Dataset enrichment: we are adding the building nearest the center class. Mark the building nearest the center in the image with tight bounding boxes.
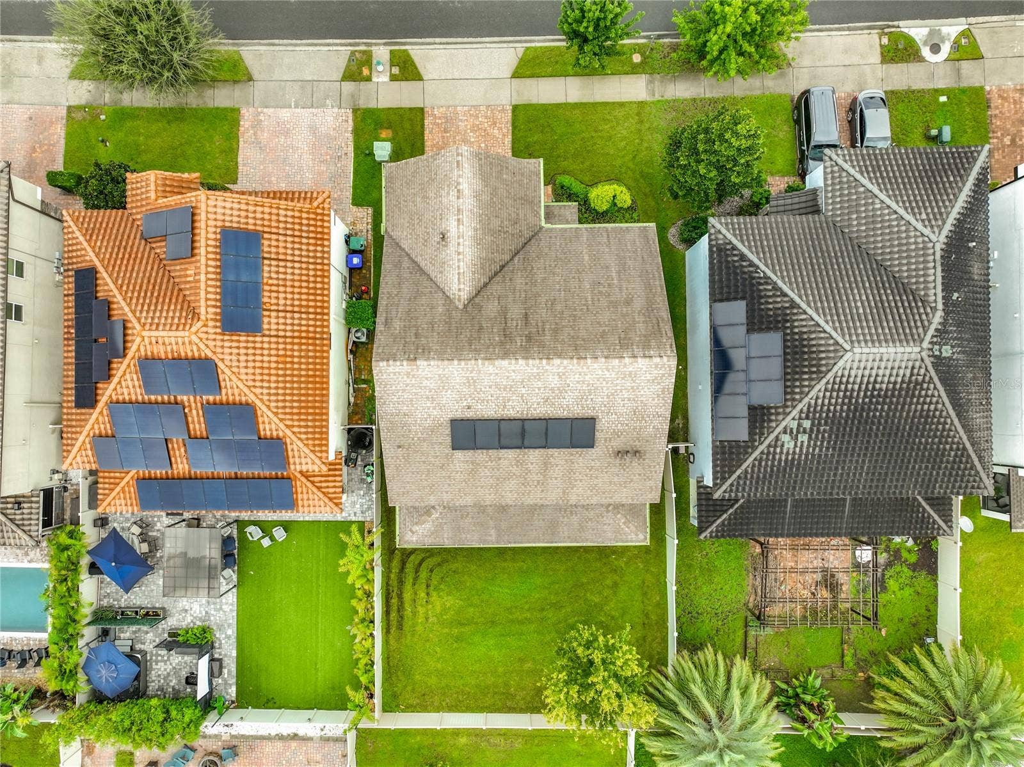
[371,145,678,547]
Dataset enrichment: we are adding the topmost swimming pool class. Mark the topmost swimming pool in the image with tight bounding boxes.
[0,563,51,638]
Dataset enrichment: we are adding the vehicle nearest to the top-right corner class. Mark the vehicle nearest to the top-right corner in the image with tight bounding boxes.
[849,85,897,146]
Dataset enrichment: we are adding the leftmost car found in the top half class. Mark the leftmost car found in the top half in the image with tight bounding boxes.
[791,85,839,182]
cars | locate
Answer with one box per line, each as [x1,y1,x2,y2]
[849,85,897,146]
[791,85,839,182]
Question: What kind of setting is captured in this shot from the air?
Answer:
residential area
